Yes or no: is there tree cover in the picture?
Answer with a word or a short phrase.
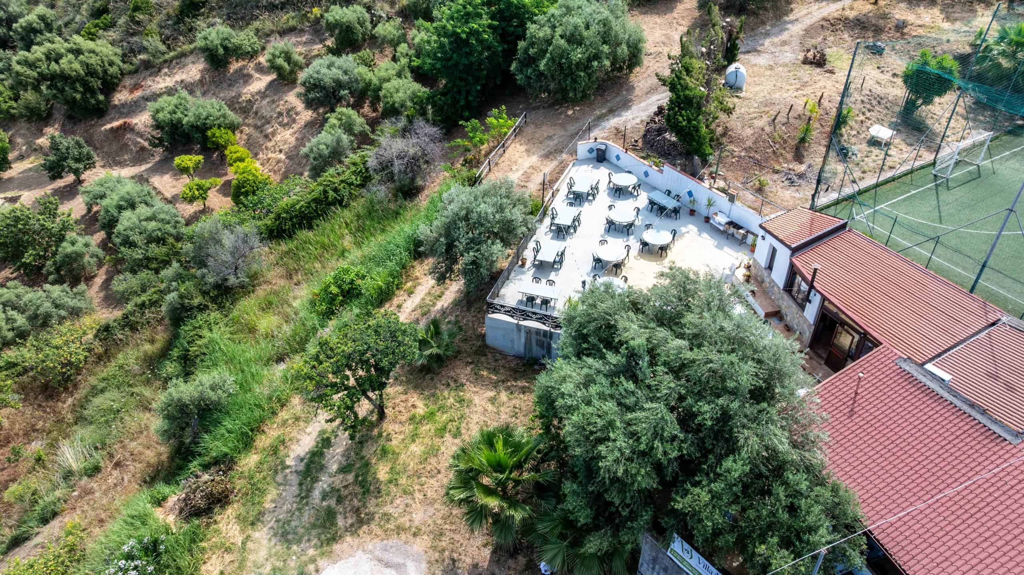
Yes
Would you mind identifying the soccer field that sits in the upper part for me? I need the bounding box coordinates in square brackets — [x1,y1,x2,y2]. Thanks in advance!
[817,131,1024,321]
